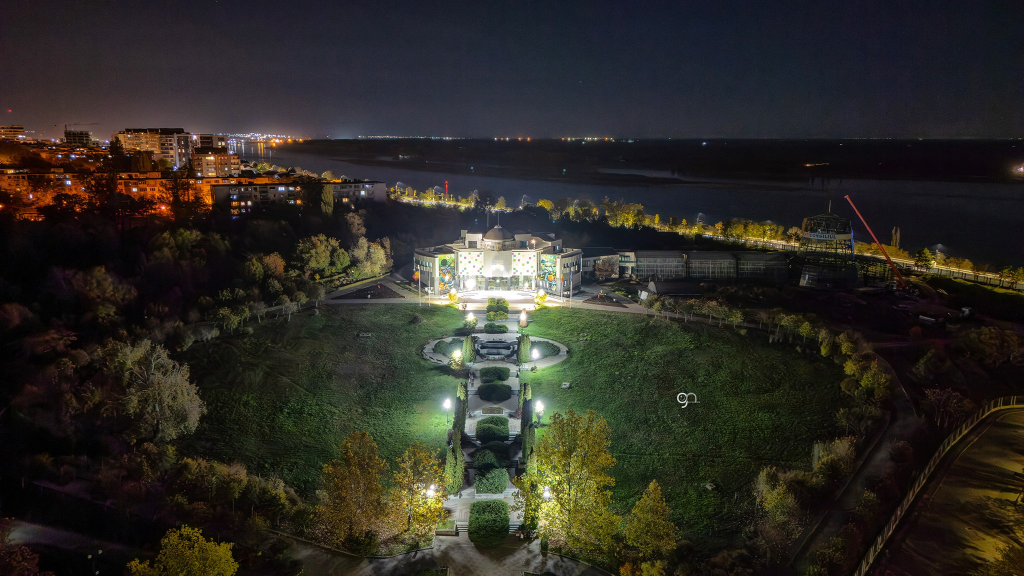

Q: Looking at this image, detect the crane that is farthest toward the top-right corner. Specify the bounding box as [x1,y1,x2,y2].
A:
[838,194,925,292]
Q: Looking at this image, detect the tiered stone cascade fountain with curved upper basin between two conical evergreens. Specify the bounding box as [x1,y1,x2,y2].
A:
[480,341,511,361]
